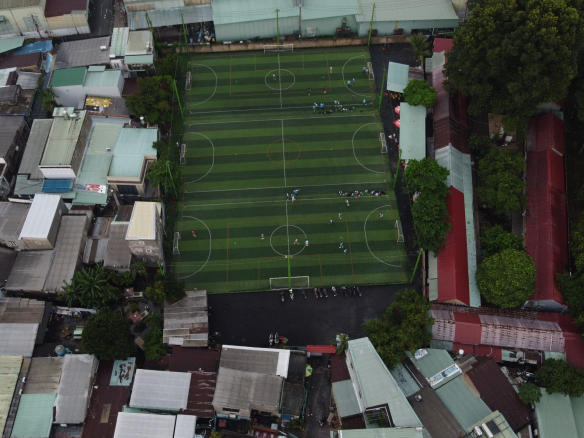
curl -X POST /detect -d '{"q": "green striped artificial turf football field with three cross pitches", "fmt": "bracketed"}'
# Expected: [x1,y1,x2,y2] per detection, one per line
[171,44,412,294]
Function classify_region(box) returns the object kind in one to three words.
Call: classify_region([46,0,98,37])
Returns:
building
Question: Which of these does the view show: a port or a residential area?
residential area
